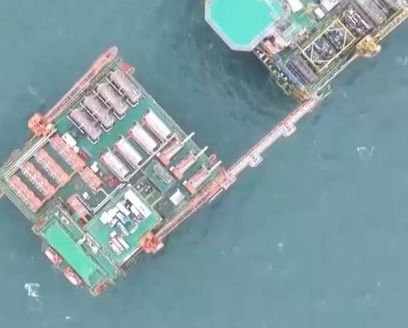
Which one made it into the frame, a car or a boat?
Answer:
boat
